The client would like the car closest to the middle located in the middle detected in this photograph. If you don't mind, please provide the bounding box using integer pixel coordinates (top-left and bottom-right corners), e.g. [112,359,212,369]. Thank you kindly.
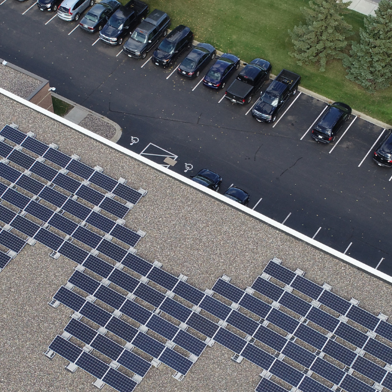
[190,166,222,190]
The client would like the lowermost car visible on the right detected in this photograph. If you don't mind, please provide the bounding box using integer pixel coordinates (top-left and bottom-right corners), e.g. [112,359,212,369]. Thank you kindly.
[222,183,250,205]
